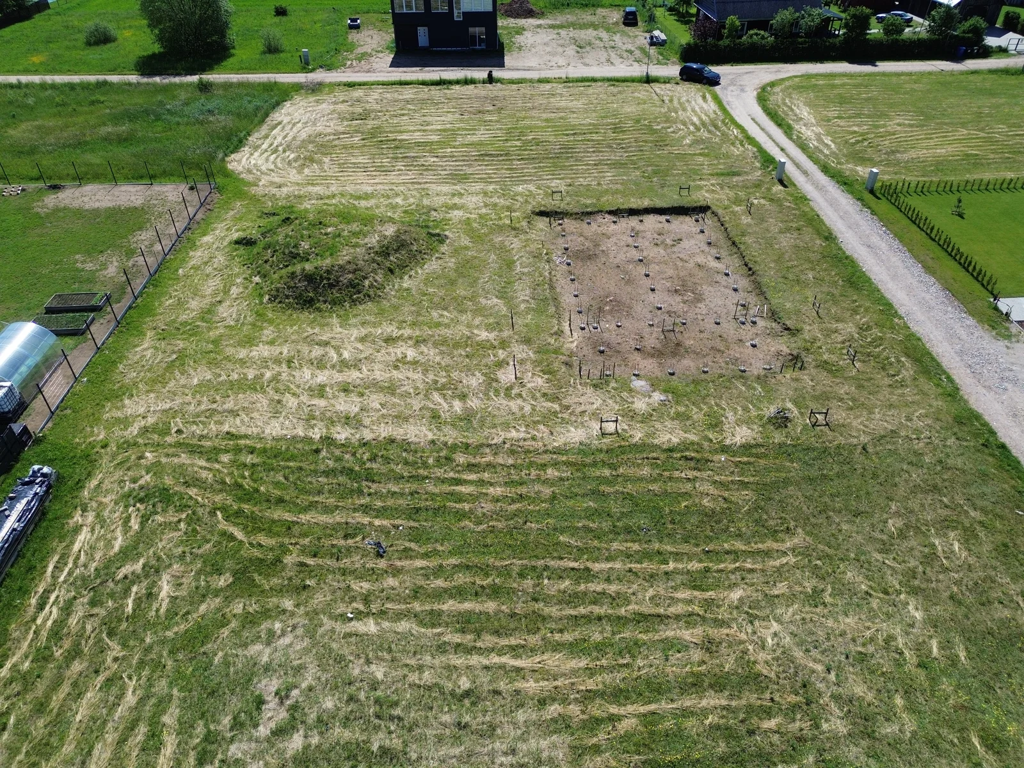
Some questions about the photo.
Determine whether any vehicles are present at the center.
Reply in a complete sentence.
No, there's no vehicle to be seen at the center.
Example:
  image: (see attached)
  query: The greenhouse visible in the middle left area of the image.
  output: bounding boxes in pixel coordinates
[0,318,69,405]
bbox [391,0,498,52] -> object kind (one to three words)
house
